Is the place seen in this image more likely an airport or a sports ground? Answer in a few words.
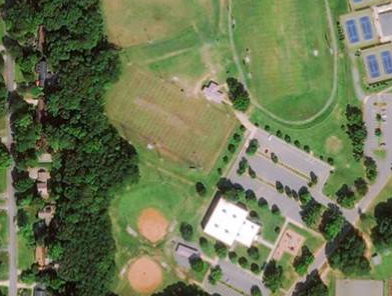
sports ground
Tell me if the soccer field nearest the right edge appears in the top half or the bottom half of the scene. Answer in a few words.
top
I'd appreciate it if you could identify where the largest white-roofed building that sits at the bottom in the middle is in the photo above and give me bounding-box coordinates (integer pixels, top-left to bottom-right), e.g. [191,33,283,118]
[203,198,263,247]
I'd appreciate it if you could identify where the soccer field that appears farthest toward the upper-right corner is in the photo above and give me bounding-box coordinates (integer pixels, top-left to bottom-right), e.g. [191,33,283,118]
[231,0,334,120]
